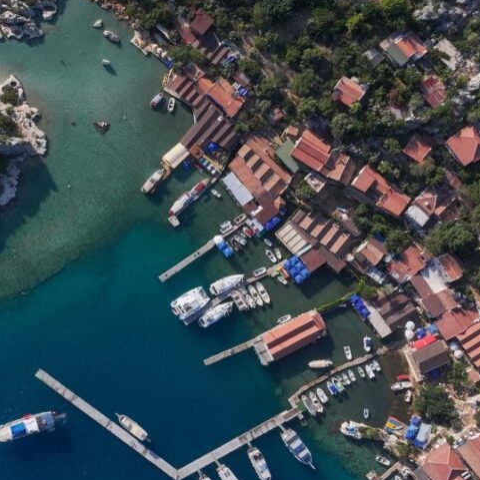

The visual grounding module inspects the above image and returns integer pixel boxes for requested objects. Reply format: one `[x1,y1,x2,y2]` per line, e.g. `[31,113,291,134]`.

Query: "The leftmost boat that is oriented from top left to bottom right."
[117,416,151,444]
